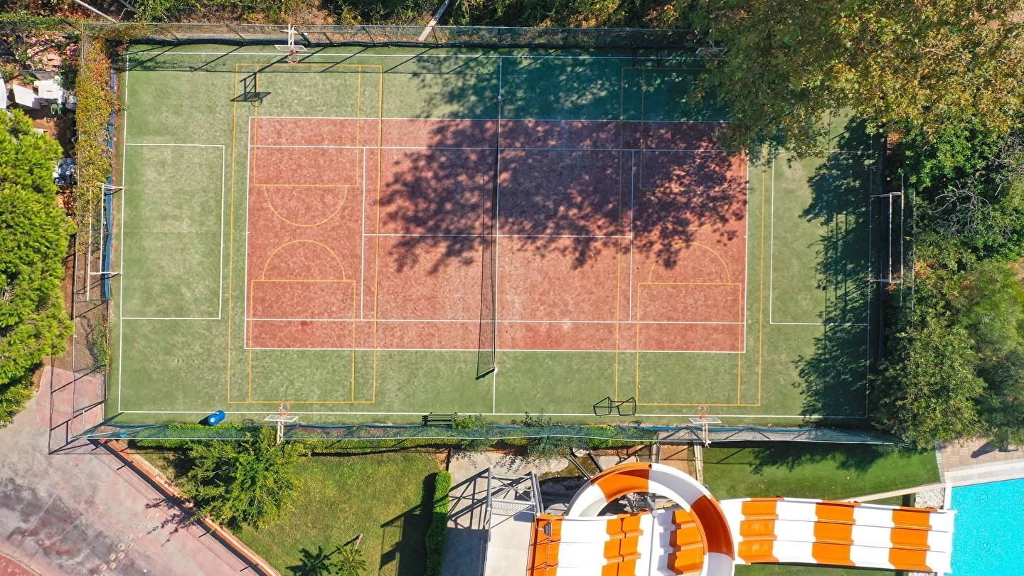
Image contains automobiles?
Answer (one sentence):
No, there's no automobile here.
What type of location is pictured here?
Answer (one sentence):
This looks like a sports ground.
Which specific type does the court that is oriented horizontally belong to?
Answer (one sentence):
The court that is oriented horizontally in the image is a tennis court.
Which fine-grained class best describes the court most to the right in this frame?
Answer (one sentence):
The court most to the right in the image is a basketball court.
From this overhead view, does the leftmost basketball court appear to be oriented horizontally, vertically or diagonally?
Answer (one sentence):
The leftmost basketball court runs vertically in the image.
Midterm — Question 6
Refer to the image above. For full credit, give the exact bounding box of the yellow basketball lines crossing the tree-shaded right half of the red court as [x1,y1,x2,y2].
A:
[615,67,766,407]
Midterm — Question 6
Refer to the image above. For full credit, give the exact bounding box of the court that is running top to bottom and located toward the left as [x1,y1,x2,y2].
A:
[228,63,382,404]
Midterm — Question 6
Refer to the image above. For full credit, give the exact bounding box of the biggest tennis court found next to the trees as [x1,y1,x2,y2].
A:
[244,116,750,353]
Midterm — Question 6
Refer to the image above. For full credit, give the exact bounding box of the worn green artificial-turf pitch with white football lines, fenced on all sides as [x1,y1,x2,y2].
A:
[106,45,879,427]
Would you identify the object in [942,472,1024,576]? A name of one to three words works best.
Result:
swimming pool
